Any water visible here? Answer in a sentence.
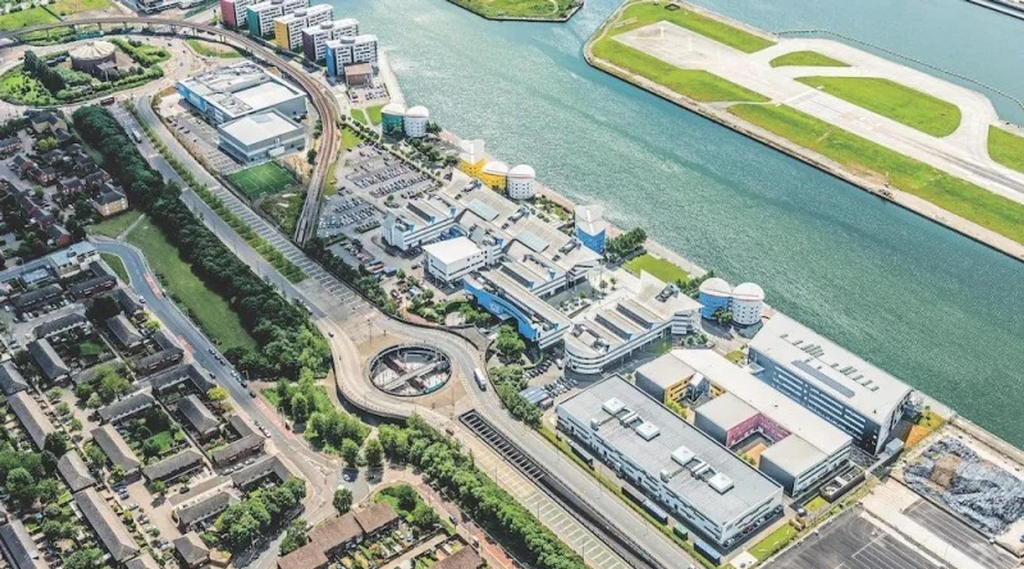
Yes, water can be seen from above here.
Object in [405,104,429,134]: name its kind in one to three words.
house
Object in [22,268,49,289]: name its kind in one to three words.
building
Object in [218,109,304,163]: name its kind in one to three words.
building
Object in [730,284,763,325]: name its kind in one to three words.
house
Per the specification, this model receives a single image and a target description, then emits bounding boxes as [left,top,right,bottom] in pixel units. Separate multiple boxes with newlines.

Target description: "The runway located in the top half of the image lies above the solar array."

[612,20,1024,204]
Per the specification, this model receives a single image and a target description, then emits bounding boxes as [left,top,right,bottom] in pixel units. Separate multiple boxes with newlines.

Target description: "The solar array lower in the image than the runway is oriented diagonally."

[788,353,852,392]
